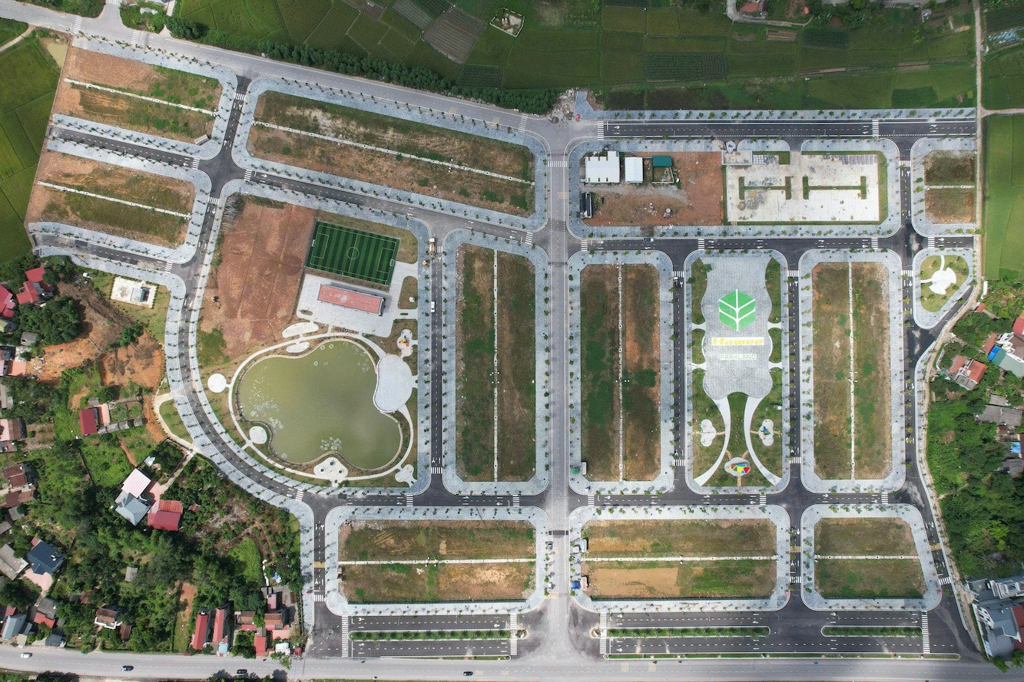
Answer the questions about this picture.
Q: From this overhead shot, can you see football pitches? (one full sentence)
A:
Yes, you can see a football pitch in this photo.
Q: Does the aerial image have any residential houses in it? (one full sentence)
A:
Yes, looking at the shot, I can spot a residential house.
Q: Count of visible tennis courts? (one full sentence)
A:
There are no tennis courts in this view.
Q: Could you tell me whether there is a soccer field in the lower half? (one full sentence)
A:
No, there is no soccer field in the lower half.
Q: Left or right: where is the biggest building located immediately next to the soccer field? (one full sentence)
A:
You can find the biggest building located immediately next to the soccer field on the left side of the picture.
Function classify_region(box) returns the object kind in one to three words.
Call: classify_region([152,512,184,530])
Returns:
house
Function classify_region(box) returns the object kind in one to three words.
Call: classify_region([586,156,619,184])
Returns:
building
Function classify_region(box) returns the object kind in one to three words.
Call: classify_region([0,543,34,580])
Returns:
house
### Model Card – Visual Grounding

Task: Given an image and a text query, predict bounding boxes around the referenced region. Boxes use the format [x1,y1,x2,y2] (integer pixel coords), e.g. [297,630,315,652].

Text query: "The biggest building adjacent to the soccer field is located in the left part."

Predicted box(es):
[318,285,383,313]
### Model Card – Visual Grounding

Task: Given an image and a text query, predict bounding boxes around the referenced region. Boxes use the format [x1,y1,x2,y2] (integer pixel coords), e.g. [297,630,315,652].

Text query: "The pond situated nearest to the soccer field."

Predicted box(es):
[238,340,400,469]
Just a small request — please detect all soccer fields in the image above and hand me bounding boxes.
[304,220,400,286]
